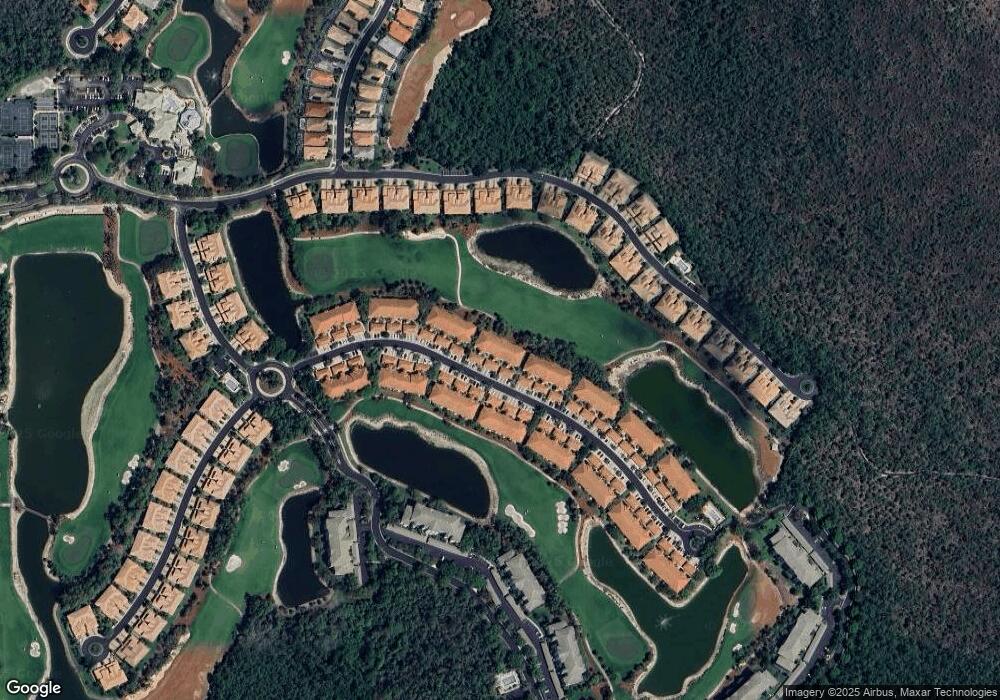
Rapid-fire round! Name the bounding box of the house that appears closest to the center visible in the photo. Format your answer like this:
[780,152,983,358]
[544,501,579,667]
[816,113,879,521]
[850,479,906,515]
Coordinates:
[471,330,525,378]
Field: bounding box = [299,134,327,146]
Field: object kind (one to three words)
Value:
house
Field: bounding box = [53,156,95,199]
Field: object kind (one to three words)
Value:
roundabout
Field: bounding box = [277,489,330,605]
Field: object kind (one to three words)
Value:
pond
